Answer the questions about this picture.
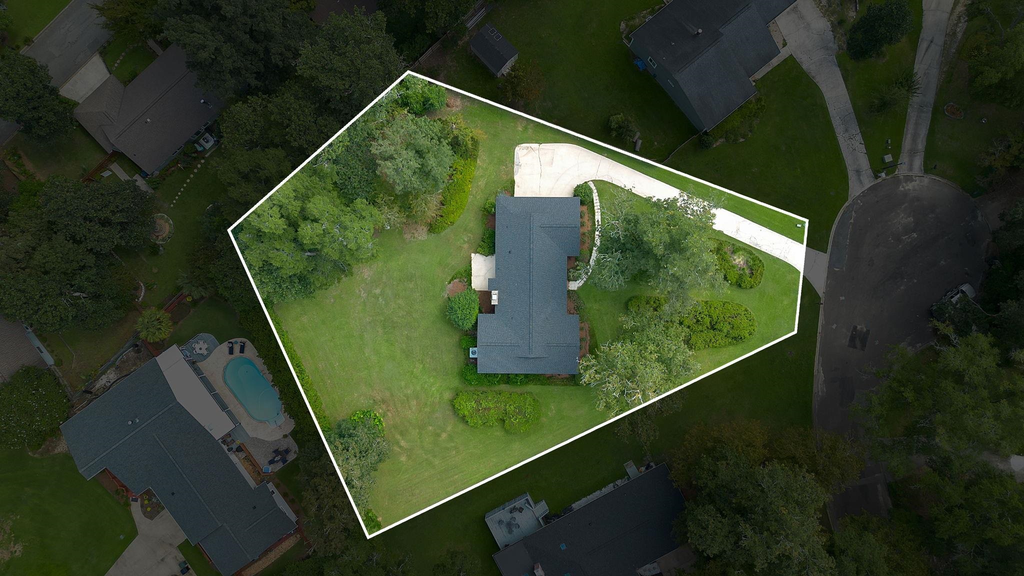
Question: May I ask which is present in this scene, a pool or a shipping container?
pool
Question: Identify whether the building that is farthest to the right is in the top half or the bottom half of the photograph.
top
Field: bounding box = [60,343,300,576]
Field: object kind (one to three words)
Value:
building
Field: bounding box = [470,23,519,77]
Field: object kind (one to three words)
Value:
shed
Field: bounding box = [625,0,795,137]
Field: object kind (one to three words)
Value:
building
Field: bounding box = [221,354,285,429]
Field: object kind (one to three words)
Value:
swimming pool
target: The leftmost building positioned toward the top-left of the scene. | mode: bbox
[74,45,223,174]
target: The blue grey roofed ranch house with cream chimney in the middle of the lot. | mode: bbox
[477,197,580,374]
